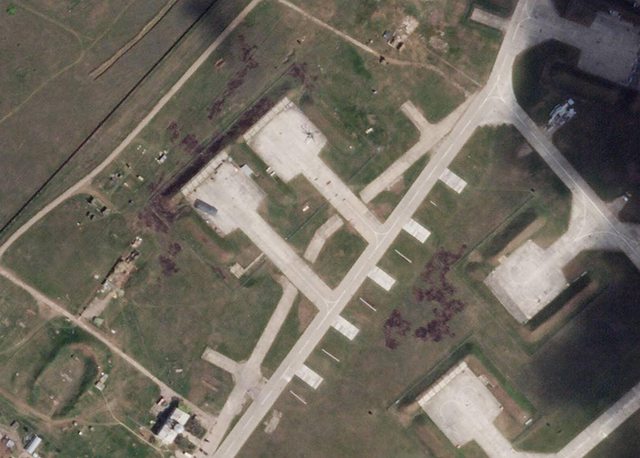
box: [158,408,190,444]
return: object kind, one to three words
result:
building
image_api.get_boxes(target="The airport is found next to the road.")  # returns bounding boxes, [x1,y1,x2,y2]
[188,0,640,458]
